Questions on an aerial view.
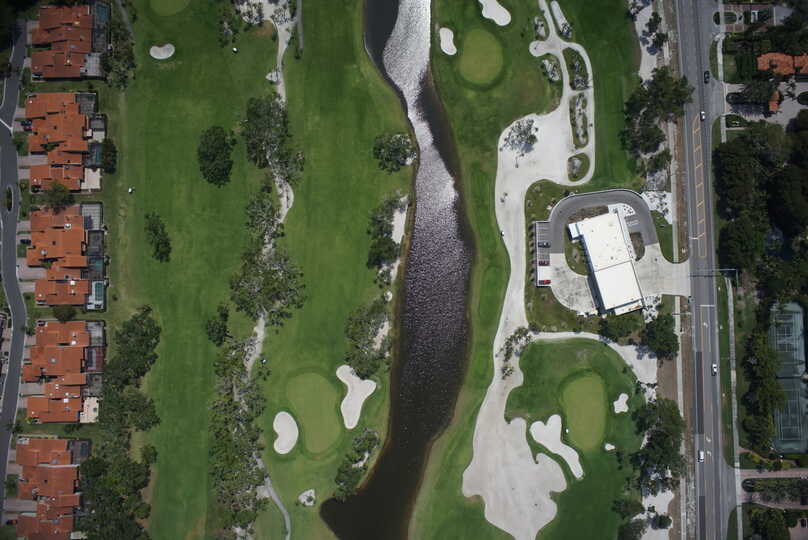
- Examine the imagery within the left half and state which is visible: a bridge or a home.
home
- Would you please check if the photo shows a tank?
No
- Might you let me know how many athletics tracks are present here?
0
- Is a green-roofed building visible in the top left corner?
No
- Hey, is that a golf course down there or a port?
golf course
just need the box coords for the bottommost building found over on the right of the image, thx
[566,213,644,315]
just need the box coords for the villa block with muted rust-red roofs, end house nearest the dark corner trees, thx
[31,2,114,80]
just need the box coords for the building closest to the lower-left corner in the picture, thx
[17,437,95,540]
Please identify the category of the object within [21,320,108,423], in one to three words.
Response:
house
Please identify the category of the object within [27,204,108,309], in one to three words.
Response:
house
